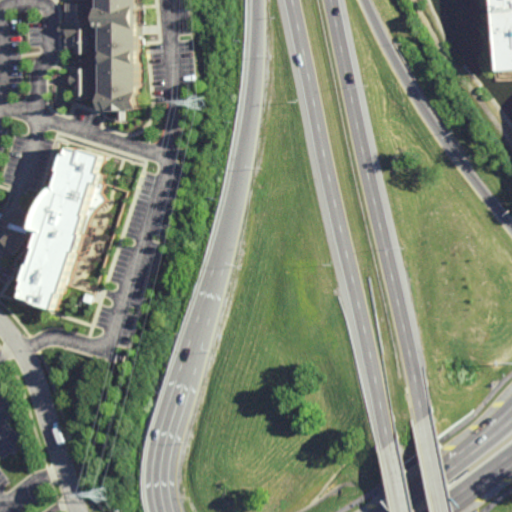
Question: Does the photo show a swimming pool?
No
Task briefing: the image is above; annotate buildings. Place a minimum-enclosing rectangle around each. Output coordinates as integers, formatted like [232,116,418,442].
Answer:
[87,0,148,122]
[7,148,108,310]
[486,0,512,85]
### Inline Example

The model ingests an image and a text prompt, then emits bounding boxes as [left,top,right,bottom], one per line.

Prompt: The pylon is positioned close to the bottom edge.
[66,486,110,504]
